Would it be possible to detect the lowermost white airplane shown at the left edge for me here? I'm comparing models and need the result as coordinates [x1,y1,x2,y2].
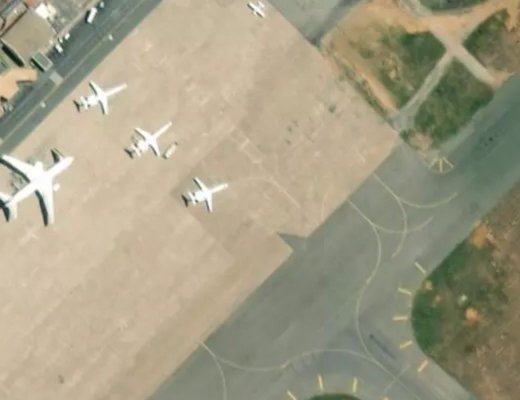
[0,156,74,226]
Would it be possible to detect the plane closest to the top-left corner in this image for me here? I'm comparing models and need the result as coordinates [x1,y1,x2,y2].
[80,82,126,114]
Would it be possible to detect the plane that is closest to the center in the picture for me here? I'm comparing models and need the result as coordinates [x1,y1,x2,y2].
[186,178,228,211]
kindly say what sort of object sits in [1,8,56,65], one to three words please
building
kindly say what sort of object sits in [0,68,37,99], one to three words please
building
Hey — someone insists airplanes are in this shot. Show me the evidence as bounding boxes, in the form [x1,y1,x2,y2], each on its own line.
[248,0,265,17]
[130,122,171,158]
[80,82,126,114]
[186,178,228,211]
[0,156,74,226]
